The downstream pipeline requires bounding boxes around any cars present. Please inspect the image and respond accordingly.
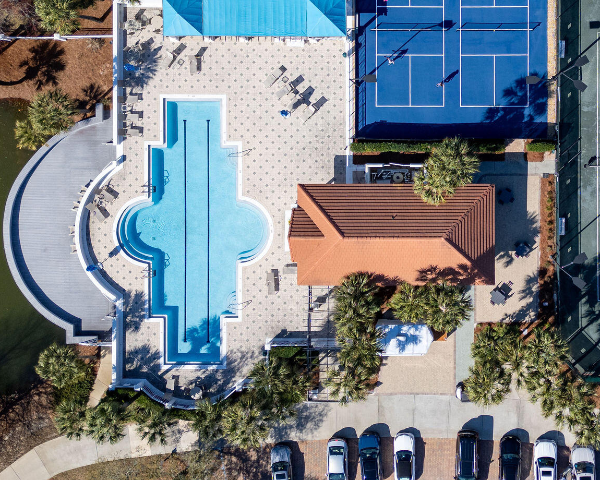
[390,432,417,480]
[498,435,524,480]
[357,431,383,480]
[454,429,481,480]
[532,438,559,480]
[325,438,350,480]
[562,445,597,480]
[267,445,293,480]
